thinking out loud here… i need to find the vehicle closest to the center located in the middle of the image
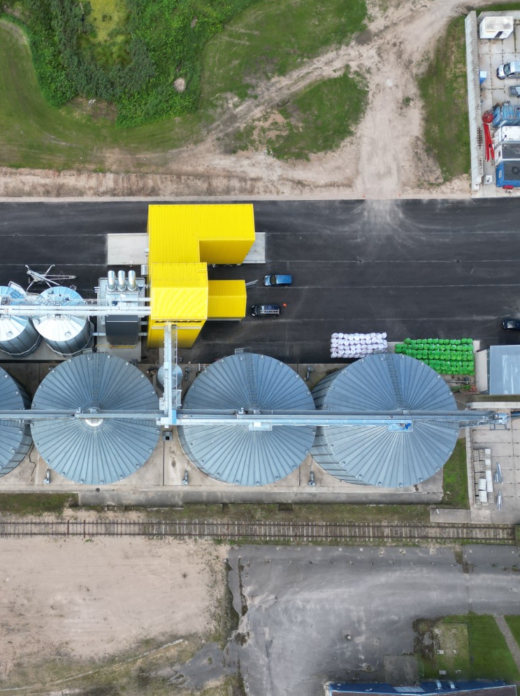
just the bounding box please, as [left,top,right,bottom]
[250,302,281,317]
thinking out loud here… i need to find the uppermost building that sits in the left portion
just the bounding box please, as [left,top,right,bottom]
[144,203,255,288]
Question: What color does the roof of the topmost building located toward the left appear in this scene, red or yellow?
yellow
